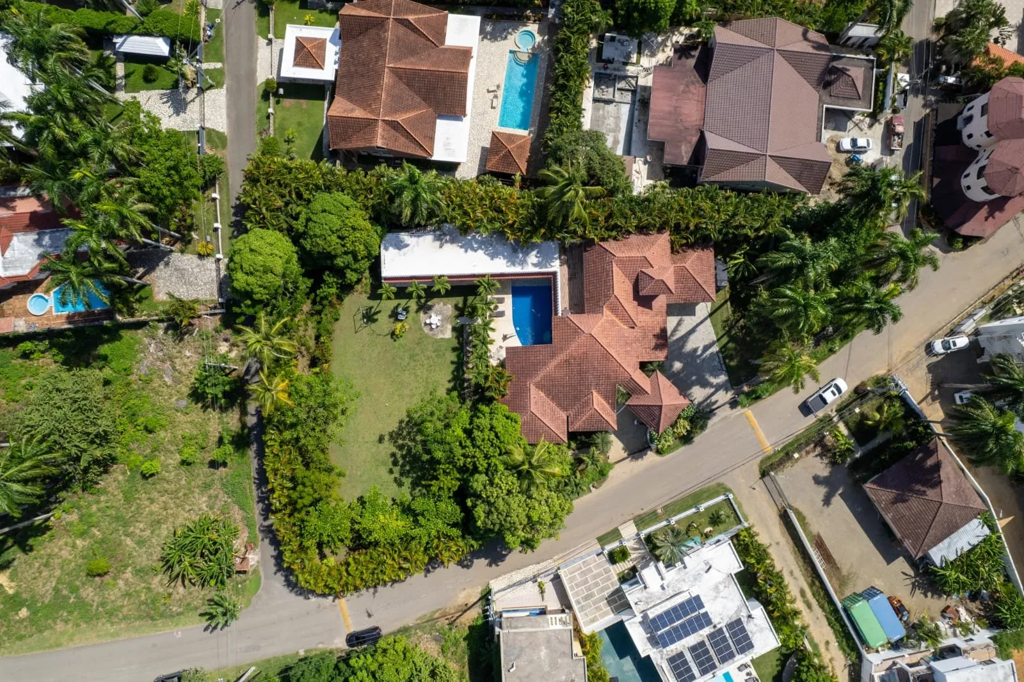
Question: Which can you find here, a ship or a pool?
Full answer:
Visible in the photo is a pool.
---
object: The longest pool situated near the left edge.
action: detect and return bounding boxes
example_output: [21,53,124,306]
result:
[49,276,114,315]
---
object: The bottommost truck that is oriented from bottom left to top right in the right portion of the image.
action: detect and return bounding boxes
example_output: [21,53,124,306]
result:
[801,376,847,416]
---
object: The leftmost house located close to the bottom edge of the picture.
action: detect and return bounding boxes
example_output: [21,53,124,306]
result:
[502,605,586,682]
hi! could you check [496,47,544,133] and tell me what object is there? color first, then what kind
blue swimming pool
